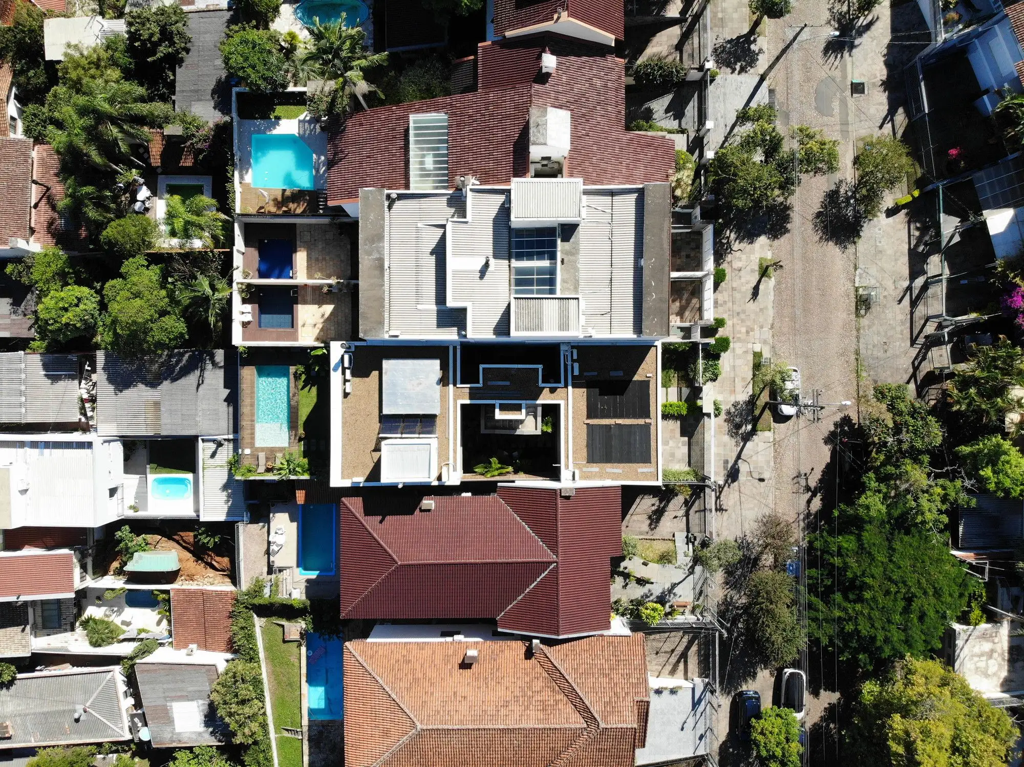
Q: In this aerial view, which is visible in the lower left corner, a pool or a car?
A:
pool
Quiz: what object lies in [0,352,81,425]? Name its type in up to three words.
shed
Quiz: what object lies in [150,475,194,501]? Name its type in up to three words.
swimming pool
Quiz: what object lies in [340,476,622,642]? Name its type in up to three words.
house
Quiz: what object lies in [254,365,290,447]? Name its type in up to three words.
swimming pool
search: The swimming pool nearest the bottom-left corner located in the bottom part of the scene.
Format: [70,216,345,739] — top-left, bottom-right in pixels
[125,589,161,609]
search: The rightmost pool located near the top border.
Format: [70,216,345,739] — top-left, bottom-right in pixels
[293,0,371,30]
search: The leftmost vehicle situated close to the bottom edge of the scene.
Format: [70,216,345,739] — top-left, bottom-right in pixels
[734,685,760,738]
